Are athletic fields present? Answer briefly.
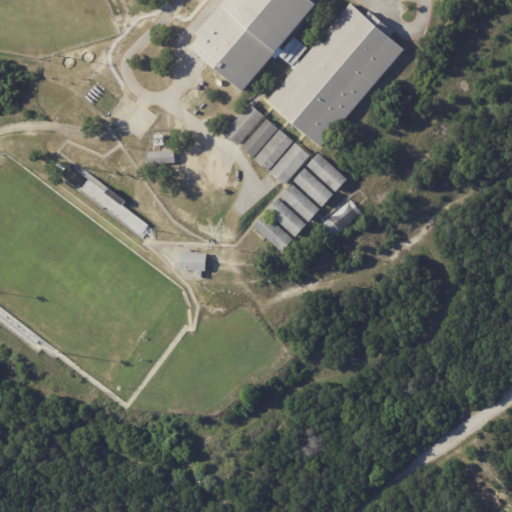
Yes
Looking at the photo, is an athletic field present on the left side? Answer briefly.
Yes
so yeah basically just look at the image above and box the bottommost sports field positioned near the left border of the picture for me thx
[0,153,186,400]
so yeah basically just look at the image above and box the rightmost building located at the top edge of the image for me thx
[268,3,404,145]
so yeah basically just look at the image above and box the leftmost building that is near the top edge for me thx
[190,0,314,88]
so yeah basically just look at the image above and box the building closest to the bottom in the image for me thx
[178,253,206,278]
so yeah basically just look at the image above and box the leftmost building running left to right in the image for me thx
[147,150,174,164]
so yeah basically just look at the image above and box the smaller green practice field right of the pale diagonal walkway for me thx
[131,308,283,409]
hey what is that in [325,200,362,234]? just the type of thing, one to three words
house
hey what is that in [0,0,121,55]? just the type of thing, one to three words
sports field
